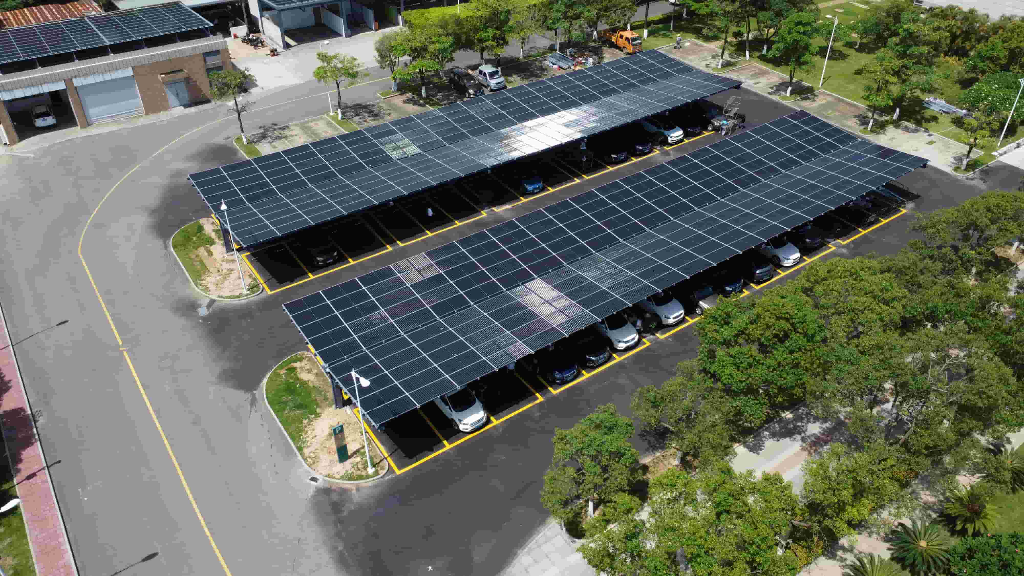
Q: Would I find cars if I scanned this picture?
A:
Yes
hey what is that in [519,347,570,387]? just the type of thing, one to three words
car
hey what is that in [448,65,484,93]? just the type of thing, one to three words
car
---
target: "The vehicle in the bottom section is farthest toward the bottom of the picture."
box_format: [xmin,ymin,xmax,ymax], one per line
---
[431,387,484,434]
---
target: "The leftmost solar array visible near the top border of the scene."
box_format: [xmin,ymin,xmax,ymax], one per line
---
[0,1,208,71]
